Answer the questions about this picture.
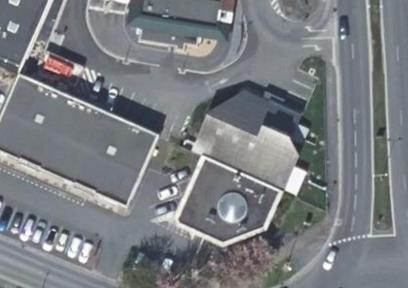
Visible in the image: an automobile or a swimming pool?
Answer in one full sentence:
Of the two, only an automobile appears.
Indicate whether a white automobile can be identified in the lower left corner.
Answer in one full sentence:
Yes, a white automobile shows up in the lower left corner.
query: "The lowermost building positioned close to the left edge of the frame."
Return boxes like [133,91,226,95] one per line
[0,67,160,216]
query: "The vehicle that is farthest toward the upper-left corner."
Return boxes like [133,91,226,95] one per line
[92,76,105,98]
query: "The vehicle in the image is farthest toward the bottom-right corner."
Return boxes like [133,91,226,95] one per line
[322,246,338,270]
